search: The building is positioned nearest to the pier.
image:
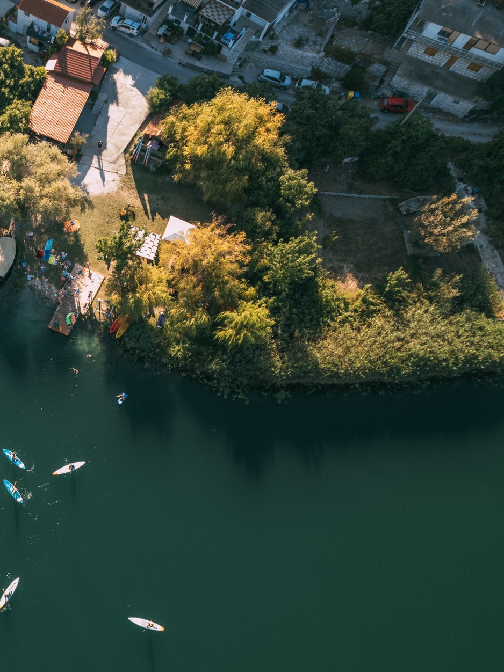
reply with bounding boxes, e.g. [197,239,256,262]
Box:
[123,227,161,268]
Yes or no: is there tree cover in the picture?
Yes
